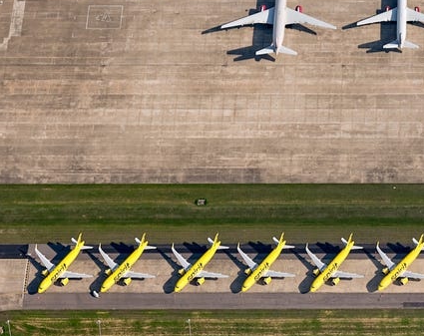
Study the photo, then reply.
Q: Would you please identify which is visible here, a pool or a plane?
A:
plane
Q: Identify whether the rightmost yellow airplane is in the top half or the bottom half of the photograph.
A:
bottom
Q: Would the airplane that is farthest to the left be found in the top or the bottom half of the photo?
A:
bottom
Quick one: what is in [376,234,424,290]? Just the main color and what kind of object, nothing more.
yellow airplane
